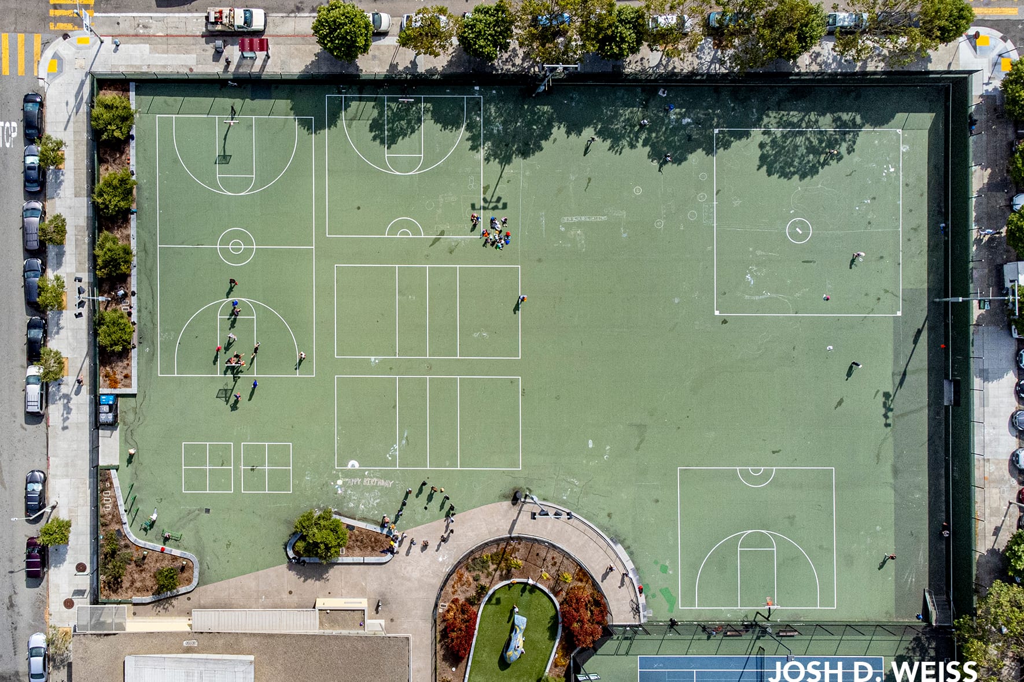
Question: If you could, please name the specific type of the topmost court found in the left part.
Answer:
basketball court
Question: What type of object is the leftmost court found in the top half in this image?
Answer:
basketball court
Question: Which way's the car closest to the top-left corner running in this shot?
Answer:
up and down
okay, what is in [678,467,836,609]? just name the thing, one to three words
basketball court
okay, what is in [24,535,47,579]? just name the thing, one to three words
car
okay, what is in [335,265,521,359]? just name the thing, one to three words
sports court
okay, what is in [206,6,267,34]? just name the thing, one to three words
truck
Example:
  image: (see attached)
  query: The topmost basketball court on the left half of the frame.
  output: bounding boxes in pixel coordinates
[326,95,483,237]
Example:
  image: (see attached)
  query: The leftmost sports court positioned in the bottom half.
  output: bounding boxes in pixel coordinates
[182,443,234,493]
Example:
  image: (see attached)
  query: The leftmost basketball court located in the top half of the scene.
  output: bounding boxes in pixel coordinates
[157,115,315,377]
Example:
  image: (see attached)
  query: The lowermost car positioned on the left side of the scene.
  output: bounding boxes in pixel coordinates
[26,634,49,682]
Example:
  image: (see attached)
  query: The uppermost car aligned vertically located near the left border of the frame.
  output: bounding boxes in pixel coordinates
[21,92,45,140]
